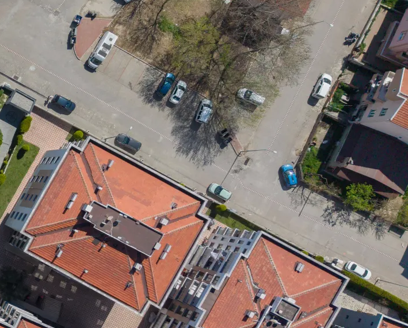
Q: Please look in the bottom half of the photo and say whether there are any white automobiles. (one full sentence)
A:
Yes, looking in the bottom half of the photo, one can make out a white automobile.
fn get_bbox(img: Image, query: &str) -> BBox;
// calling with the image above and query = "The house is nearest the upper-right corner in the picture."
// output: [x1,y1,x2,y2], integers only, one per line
[362,20,408,71]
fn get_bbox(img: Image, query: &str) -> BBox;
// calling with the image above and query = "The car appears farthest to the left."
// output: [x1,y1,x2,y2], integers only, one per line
[46,93,74,113]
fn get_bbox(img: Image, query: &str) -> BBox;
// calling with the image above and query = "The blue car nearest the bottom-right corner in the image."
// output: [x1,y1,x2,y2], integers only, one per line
[278,164,298,189]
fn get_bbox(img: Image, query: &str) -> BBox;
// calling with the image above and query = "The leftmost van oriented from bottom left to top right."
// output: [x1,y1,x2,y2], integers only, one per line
[90,30,121,67]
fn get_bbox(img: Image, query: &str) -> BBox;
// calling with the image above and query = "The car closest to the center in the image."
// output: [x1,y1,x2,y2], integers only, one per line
[206,182,233,202]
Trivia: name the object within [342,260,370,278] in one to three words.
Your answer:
car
